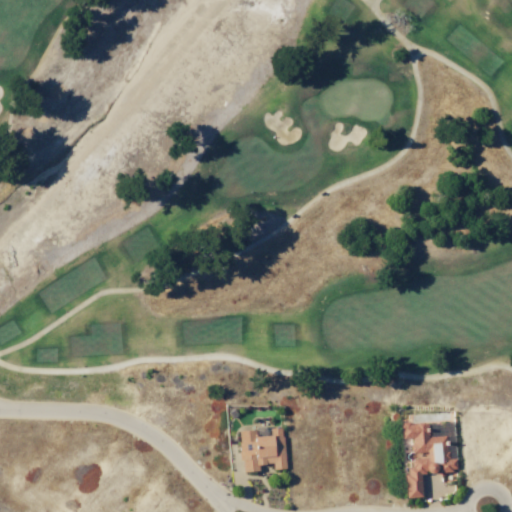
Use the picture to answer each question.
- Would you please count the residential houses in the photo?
2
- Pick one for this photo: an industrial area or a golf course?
golf course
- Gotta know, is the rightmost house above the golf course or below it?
below it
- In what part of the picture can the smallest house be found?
bottom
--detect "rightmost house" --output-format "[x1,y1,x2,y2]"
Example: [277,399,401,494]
[404,414,460,499]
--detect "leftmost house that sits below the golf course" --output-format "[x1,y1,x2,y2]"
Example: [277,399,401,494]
[242,427,287,474]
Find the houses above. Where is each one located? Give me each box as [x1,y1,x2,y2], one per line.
[404,414,460,499]
[242,427,287,474]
